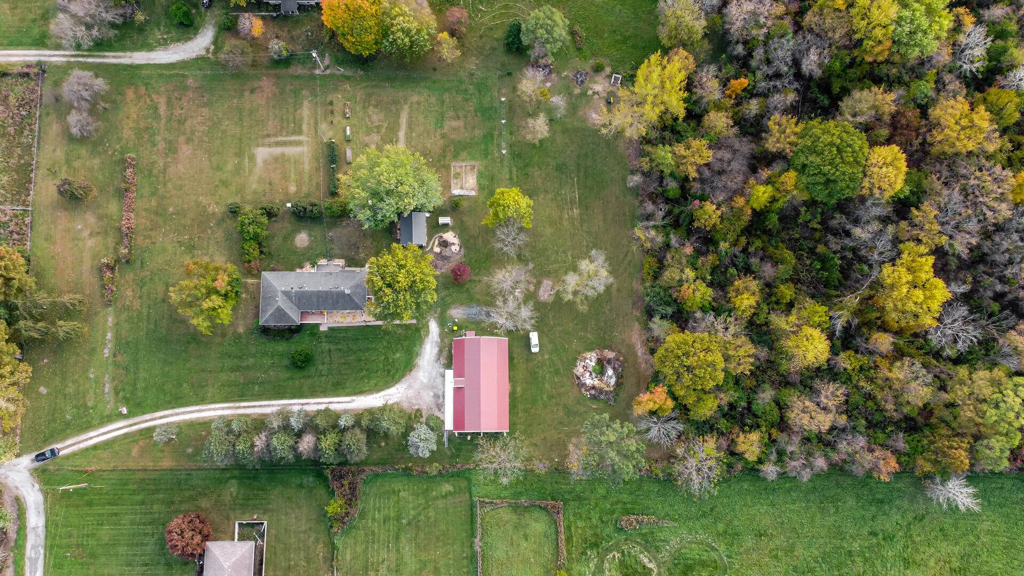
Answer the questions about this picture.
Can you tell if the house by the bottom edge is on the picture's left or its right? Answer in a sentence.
The house by the bottom edge appears in the left half of the scene.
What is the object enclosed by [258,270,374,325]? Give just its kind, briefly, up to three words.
house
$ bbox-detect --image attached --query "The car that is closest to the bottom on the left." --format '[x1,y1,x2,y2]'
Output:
[34,445,62,464]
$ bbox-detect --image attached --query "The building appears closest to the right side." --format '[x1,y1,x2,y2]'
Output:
[445,331,509,436]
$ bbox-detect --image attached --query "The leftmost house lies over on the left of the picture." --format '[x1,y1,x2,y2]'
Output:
[202,540,255,576]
